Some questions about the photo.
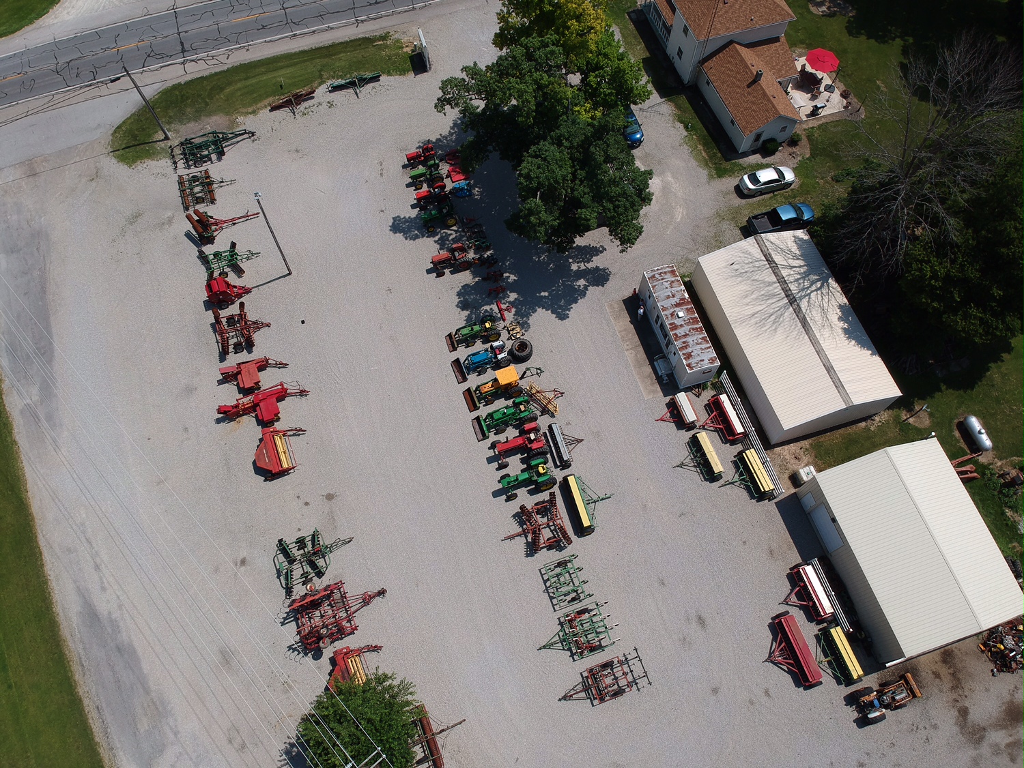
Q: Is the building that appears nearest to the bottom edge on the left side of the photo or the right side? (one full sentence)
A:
The building that appears nearest to the bottom edge sits on the right side.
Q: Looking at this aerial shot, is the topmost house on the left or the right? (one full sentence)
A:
It is on the right.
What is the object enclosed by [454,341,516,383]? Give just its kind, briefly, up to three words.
work vehicle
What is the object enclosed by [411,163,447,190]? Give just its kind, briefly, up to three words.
work vehicle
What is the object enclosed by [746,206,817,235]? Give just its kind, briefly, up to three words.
truck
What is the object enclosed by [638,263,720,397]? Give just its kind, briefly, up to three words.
trailer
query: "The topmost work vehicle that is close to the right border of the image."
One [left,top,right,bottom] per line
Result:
[998,463,1024,496]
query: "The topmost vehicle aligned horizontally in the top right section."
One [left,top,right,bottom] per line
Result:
[737,168,798,200]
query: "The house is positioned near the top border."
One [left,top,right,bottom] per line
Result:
[618,0,804,155]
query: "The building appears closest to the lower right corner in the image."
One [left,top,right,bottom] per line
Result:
[798,430,1024,662]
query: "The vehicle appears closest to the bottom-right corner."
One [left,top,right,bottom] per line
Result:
[850,670,924,726]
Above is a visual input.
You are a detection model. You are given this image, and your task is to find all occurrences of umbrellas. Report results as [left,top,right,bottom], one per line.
[803,49,841,92]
